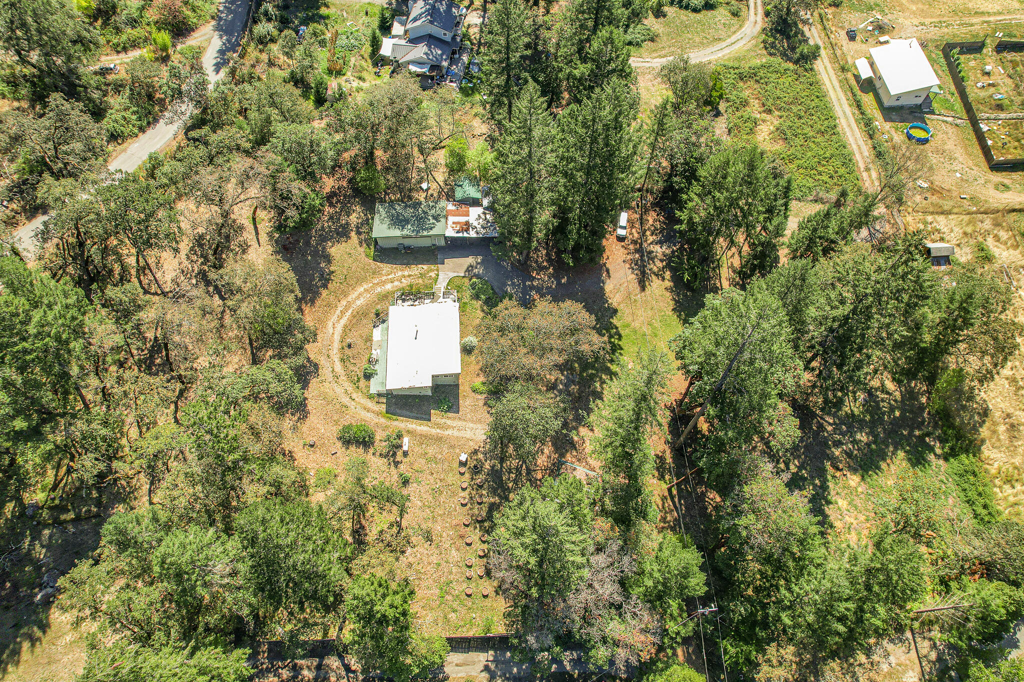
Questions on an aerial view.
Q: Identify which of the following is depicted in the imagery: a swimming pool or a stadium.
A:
swimming pool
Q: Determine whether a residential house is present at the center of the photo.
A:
Yes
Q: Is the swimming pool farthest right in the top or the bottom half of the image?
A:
top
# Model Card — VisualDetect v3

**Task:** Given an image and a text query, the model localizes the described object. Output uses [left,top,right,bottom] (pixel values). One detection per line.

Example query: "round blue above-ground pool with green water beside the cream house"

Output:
[905,120,937,145]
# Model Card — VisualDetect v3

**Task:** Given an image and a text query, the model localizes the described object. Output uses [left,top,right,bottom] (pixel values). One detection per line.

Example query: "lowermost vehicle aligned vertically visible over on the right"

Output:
[616,213,629,239]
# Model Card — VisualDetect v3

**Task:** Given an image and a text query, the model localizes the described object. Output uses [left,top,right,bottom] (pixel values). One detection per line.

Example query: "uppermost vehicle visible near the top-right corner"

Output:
[847,26,859,39]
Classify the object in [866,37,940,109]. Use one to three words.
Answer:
house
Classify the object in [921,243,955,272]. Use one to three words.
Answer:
shed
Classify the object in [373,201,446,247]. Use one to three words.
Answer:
building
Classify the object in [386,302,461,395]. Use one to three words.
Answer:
house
